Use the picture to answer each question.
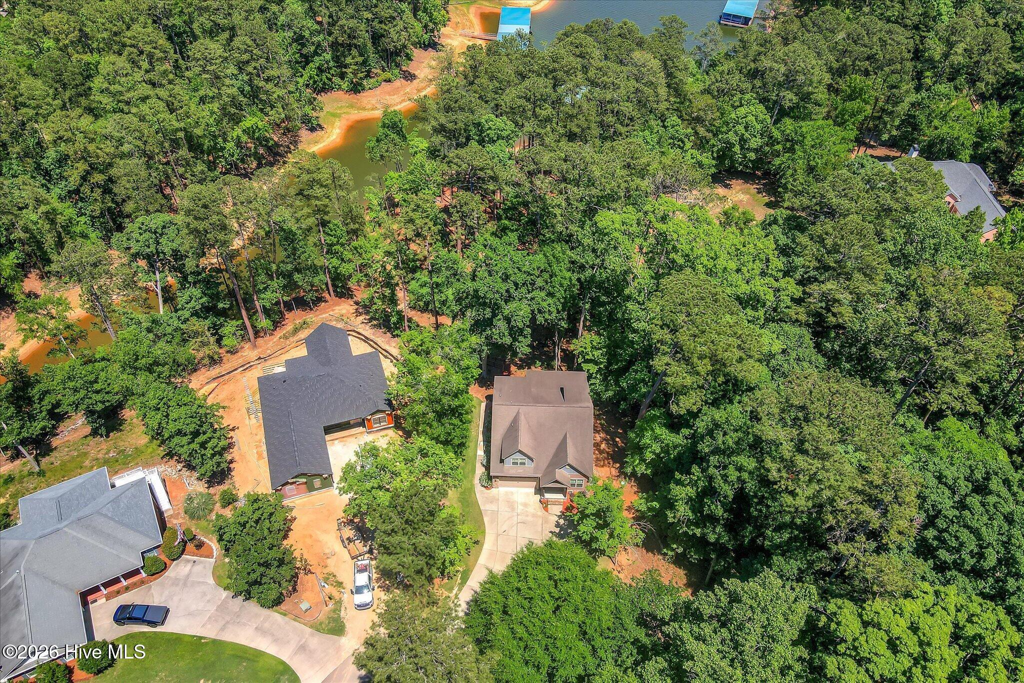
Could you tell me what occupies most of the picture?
trees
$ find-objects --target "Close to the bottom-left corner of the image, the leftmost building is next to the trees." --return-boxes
[0,457,177,683]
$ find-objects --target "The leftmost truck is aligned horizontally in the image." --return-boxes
[114,601,172,630]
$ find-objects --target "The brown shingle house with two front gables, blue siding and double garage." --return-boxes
[489,357,595,507]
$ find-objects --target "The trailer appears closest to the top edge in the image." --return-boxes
[336,516,368,560]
